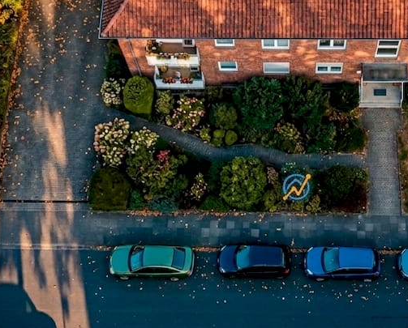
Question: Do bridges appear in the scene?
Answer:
No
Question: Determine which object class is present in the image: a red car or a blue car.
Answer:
blue car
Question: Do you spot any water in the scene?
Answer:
No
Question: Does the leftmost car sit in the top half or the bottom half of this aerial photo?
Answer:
bottom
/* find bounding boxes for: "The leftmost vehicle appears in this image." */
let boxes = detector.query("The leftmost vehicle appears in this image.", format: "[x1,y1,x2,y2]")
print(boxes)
[109,242,194,281]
